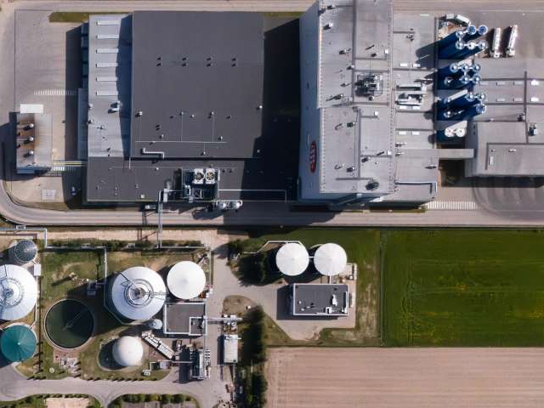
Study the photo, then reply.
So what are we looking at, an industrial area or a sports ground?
industrial area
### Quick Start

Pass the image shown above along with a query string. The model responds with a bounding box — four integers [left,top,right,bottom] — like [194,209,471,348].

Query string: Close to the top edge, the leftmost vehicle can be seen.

[449,12,472,24]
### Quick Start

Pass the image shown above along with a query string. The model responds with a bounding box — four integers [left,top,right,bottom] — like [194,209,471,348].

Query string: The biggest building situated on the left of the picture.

[131,11,264,162]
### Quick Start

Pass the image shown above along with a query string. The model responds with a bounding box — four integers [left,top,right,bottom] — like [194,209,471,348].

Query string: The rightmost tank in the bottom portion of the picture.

[308,243,347,277]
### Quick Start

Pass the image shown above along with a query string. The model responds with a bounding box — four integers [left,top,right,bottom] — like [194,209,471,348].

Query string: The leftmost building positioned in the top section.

[17,104,52,175]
